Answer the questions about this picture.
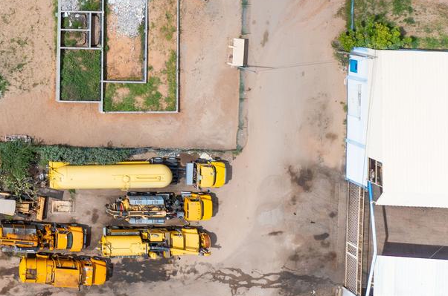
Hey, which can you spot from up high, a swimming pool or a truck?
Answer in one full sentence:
Visible in the photo is a truck.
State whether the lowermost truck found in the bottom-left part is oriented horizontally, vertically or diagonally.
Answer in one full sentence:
The lowermost truck found in the bottom-left part has been laid out horizontally relative to the frame.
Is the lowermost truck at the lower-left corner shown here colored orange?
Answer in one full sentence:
Yes, orange is the color of the lowermost truck at the lower-left corner.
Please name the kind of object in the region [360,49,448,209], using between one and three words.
building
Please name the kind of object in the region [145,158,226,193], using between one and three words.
truck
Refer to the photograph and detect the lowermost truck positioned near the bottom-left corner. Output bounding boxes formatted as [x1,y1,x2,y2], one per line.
[19,253,105,293]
